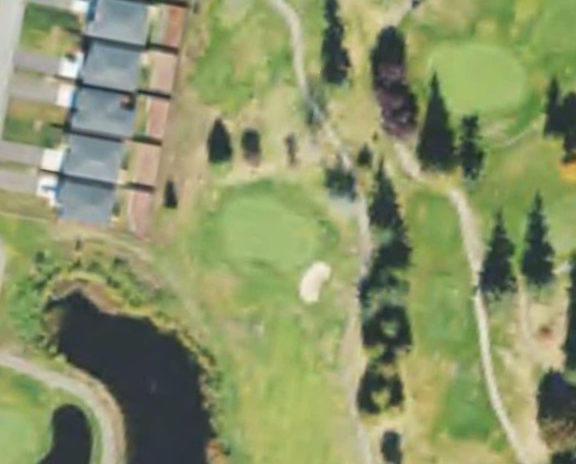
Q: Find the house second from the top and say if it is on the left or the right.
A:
left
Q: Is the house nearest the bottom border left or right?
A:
left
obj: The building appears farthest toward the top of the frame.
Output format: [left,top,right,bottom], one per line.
[88,0,152,45]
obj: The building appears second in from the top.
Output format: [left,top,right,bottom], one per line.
[83,40,145,92]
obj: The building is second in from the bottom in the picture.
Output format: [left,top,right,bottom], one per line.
[61,134,122,184]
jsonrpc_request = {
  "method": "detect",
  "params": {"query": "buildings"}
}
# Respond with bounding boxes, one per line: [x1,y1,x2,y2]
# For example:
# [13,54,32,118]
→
[61,134,122,184]
[88,0,152,45]
[83,40,145,92]
[71,87,137,140]
[57,179,114,224]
